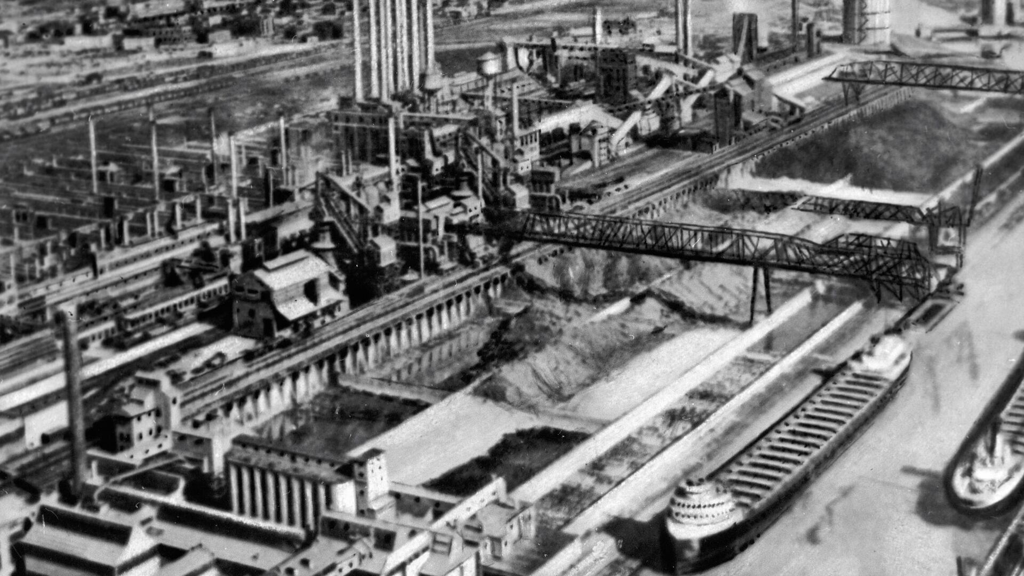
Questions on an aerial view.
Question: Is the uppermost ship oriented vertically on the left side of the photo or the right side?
right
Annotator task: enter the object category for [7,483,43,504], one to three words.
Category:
shed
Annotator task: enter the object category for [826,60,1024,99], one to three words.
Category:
bridge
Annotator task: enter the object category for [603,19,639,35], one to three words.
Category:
building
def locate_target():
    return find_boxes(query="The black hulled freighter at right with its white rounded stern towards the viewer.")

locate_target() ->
[941,329,1024,521]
